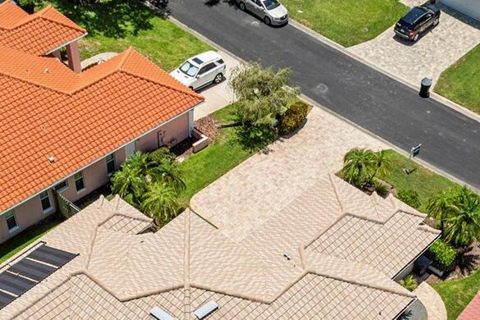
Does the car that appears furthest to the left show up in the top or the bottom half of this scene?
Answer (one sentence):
Seen from above, the car that appears furthest to the left lies in the top half of the view.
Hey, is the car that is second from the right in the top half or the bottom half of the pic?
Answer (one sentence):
The car that is second from the right sits in the top half of the picture.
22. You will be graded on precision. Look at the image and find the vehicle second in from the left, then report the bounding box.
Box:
[236,0,293,26]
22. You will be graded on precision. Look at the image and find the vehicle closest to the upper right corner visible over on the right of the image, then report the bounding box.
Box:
[392,1,446,41]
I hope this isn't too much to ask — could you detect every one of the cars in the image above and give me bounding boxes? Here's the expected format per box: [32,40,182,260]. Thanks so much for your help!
[236,0,293,26]
[392,1,446,41]
[165,44,230,89]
